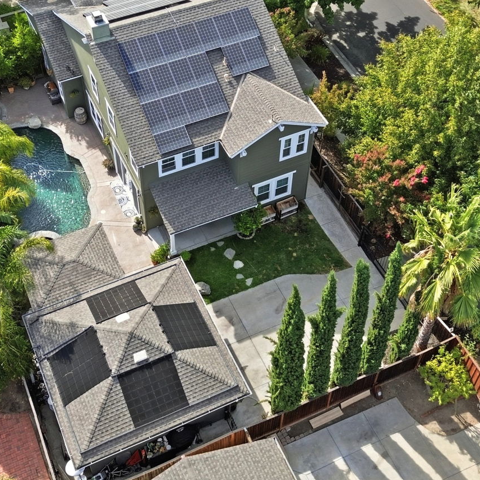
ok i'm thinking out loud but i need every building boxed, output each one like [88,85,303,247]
[20,256,253,476]
[161,436,301,480]
[17,0,335,256]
